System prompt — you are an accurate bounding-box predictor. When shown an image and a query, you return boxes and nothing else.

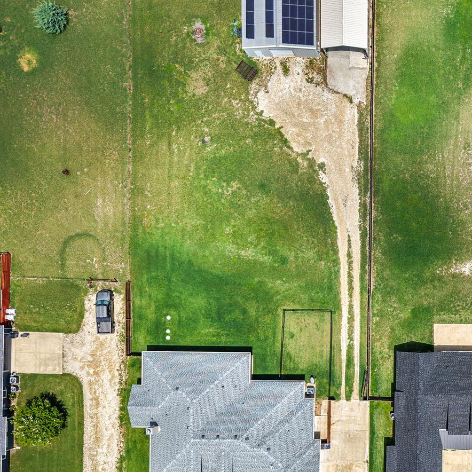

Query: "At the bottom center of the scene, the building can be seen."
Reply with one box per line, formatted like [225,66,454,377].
[127,350,320,472]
